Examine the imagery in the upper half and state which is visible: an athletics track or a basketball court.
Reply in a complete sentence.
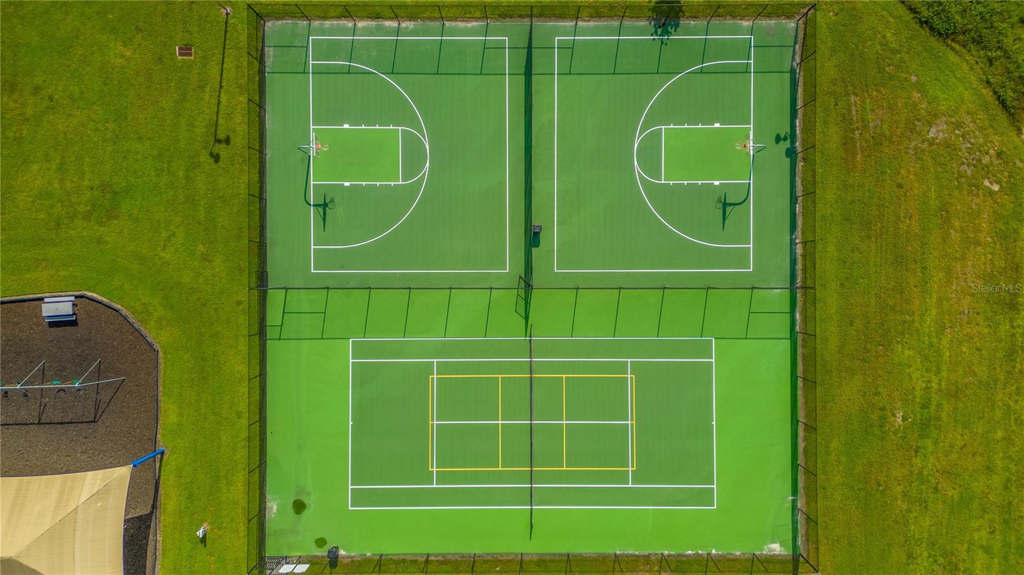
There is a basketball court in the upper half.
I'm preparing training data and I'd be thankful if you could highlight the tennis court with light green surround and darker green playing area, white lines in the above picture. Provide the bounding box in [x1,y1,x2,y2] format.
[265,289,799,556]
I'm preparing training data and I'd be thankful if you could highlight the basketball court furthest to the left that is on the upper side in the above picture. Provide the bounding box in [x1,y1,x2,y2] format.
[265,21,531,288]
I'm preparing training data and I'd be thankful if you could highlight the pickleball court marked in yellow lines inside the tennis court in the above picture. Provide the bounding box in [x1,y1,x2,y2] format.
[429,375,635,470]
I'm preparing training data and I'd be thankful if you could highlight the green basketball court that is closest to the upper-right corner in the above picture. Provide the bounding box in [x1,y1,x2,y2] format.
[532,21,798,288]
